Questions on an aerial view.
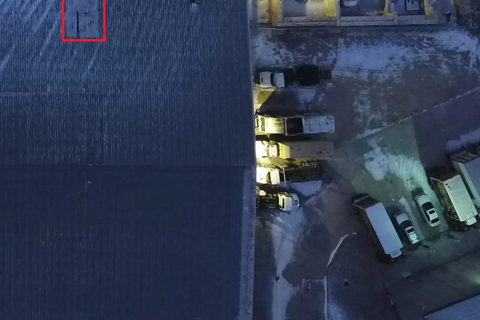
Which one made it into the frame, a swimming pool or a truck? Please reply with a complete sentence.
It is a truck that can be seen here.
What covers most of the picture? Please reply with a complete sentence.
The bulk of the photo consists of buildings.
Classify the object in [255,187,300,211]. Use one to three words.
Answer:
truck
